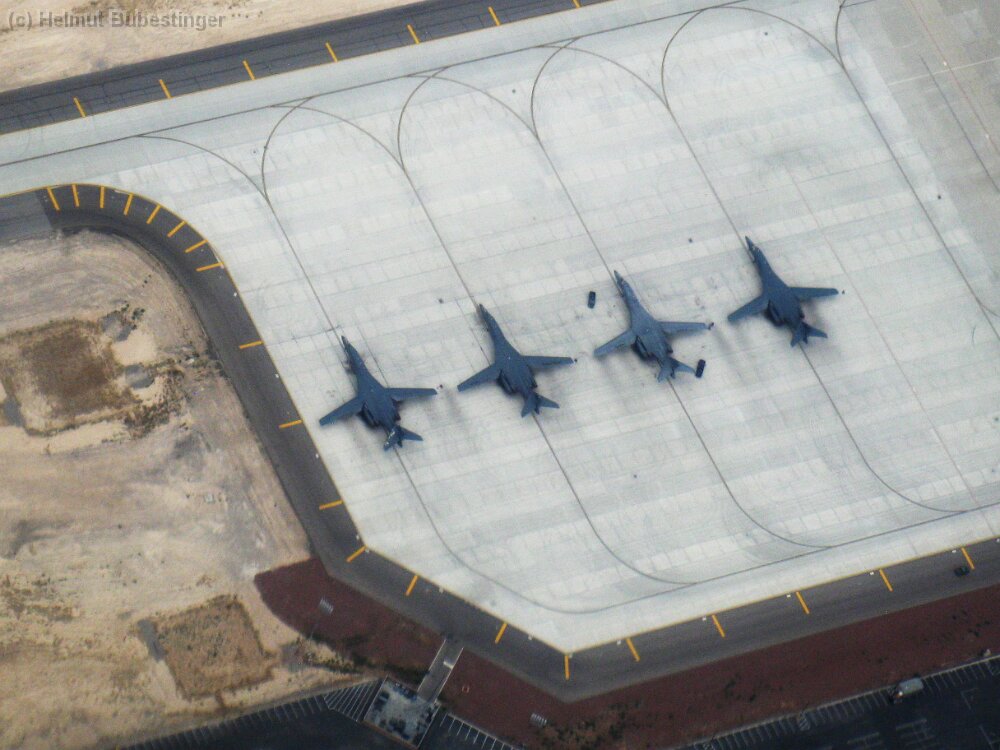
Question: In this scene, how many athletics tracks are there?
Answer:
0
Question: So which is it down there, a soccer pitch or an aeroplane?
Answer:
aeroplane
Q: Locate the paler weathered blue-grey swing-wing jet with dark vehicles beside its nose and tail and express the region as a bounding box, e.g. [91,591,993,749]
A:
[596,270,710,381]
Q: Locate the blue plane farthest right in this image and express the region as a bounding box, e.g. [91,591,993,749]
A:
[728,237,840,345]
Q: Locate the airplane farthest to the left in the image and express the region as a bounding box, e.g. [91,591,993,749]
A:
[319,337,438,449]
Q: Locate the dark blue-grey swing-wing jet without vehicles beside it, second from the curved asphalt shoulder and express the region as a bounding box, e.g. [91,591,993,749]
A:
[459,304,576,416]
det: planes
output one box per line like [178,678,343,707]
[459,304,576,416]
[728,237,840,345]
[319,337,438,449]
[596,270,710,381]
